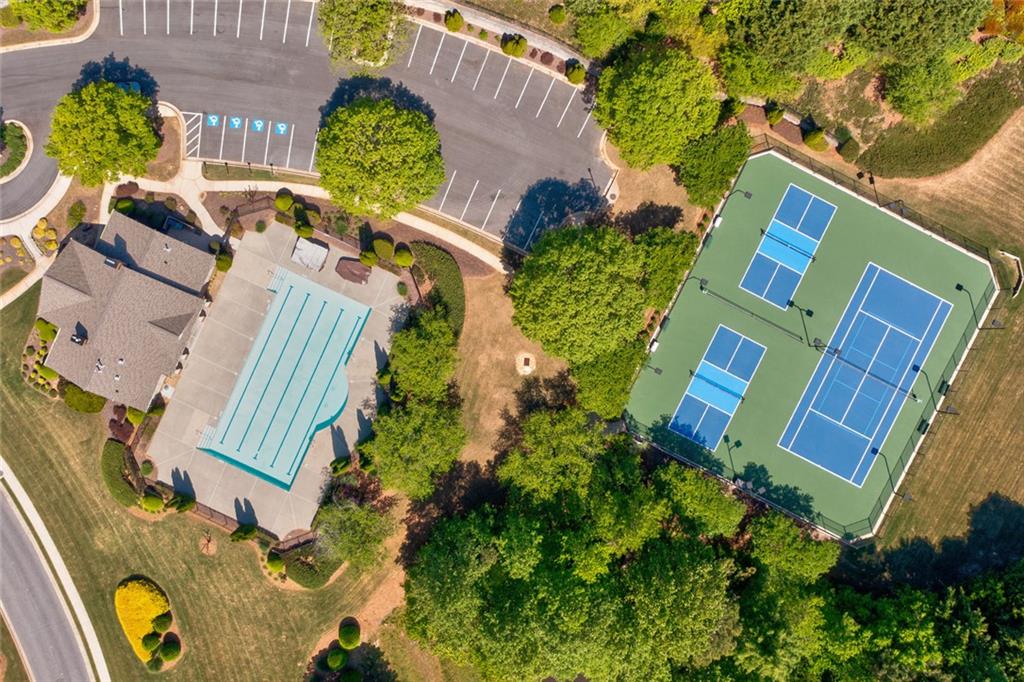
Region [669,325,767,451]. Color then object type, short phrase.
blue sports court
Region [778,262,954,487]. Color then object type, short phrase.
blue tennis court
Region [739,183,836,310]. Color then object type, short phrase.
blue sports court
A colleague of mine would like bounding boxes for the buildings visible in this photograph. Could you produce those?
[39,209,216,412]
